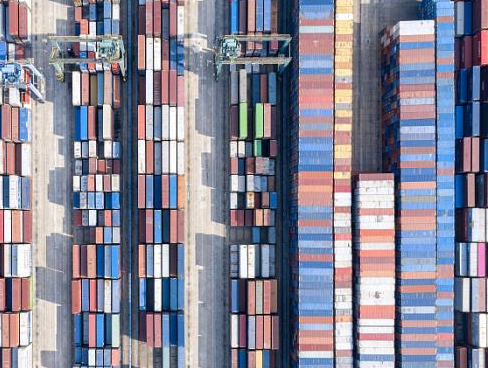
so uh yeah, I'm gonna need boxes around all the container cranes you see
[49,32,128,81]
[215,34,297,81]
[0,58,44,103]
